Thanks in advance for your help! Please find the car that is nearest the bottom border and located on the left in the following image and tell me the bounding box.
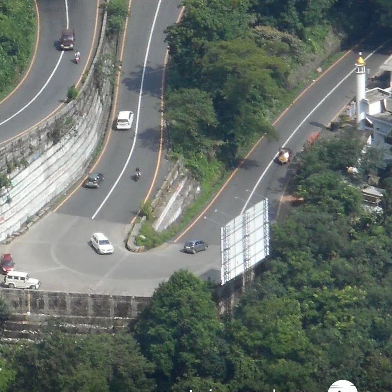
[1,265,42,289]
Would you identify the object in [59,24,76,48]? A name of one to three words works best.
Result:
car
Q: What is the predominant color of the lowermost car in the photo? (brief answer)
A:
white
